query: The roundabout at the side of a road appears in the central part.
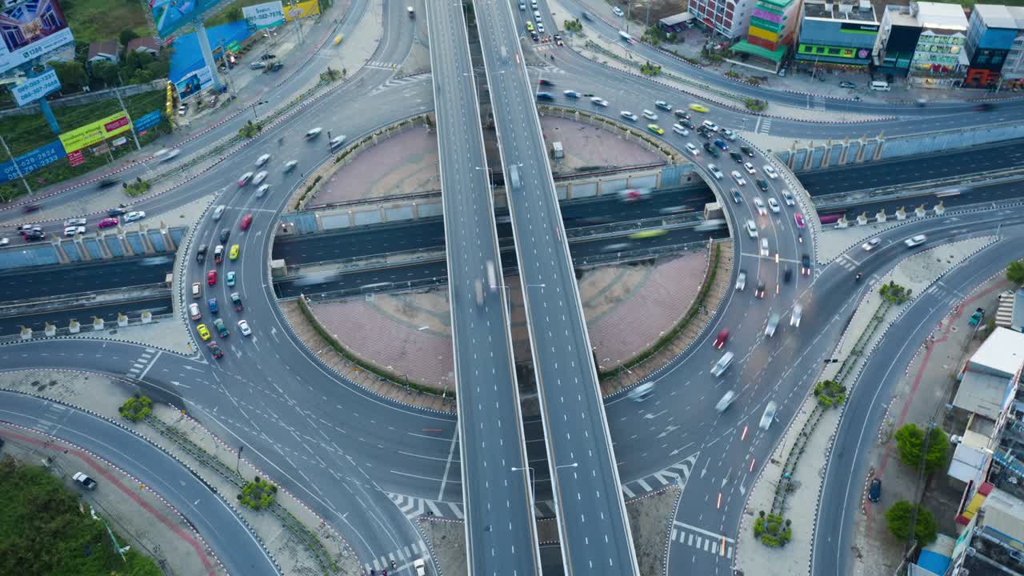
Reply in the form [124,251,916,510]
[181,67,822,505]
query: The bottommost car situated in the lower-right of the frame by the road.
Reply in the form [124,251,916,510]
[867,476,883,504]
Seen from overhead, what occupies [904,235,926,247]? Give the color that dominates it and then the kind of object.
white vehicle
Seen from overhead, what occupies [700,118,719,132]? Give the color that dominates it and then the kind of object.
white car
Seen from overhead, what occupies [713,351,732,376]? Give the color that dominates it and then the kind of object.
white vehicle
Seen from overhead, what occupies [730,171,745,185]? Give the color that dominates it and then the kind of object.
white car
